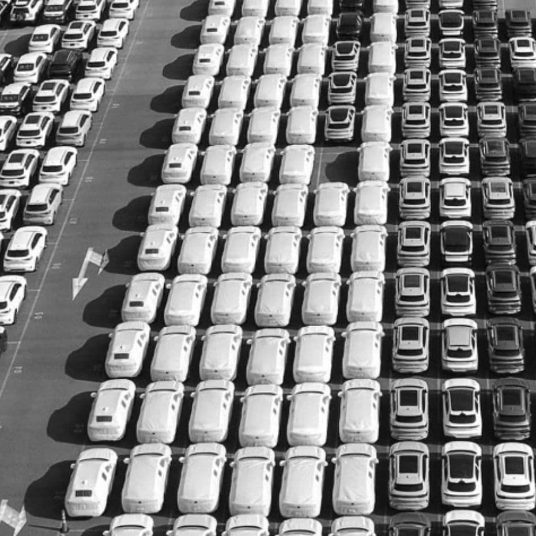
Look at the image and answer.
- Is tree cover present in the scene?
No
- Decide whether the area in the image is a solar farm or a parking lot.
parking lot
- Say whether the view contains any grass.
No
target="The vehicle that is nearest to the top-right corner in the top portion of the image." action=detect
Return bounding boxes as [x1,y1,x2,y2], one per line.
[506,9,533,40]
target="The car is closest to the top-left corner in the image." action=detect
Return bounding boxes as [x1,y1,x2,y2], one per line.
[10,0,46,26]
